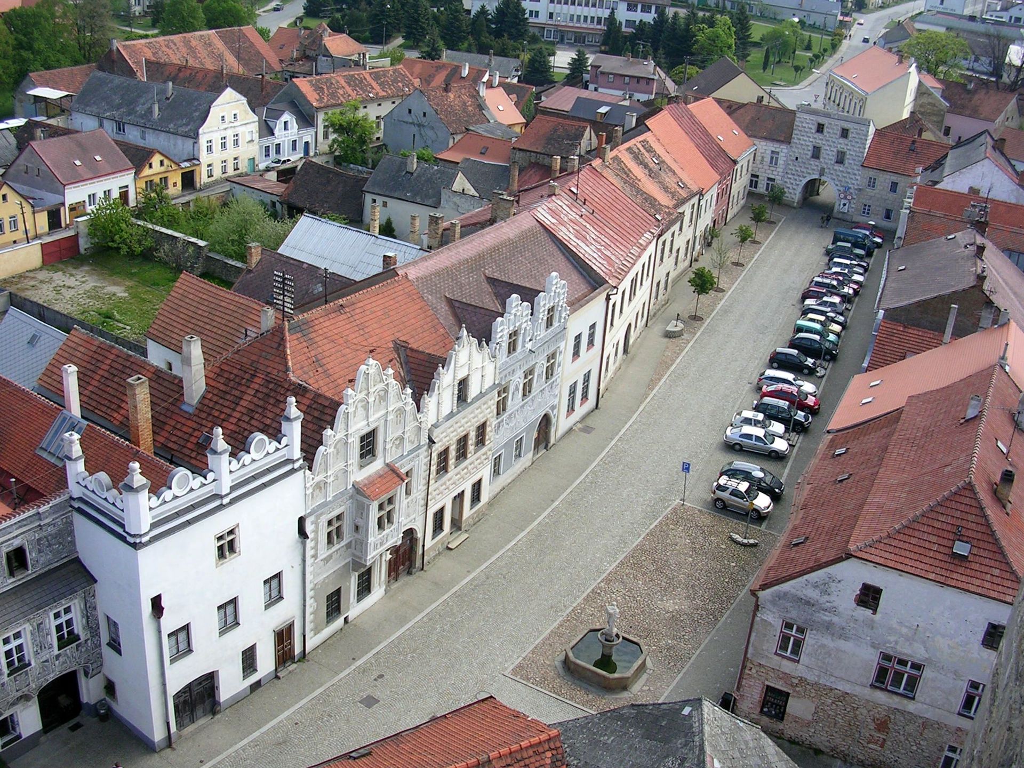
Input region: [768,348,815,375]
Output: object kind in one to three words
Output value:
car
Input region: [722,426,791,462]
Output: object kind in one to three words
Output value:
car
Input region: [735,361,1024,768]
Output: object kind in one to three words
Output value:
house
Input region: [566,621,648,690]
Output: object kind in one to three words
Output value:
fountain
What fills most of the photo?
buildings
